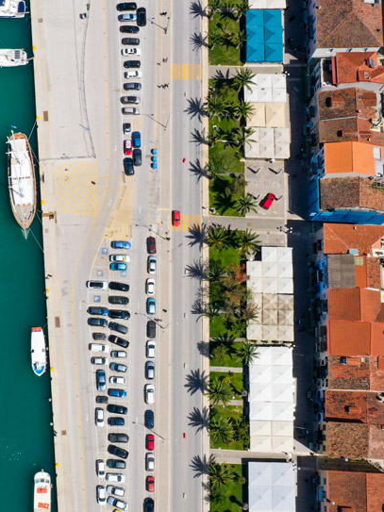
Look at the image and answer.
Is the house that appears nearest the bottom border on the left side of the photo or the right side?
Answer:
right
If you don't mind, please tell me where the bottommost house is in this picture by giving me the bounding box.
[312,471,384,512]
